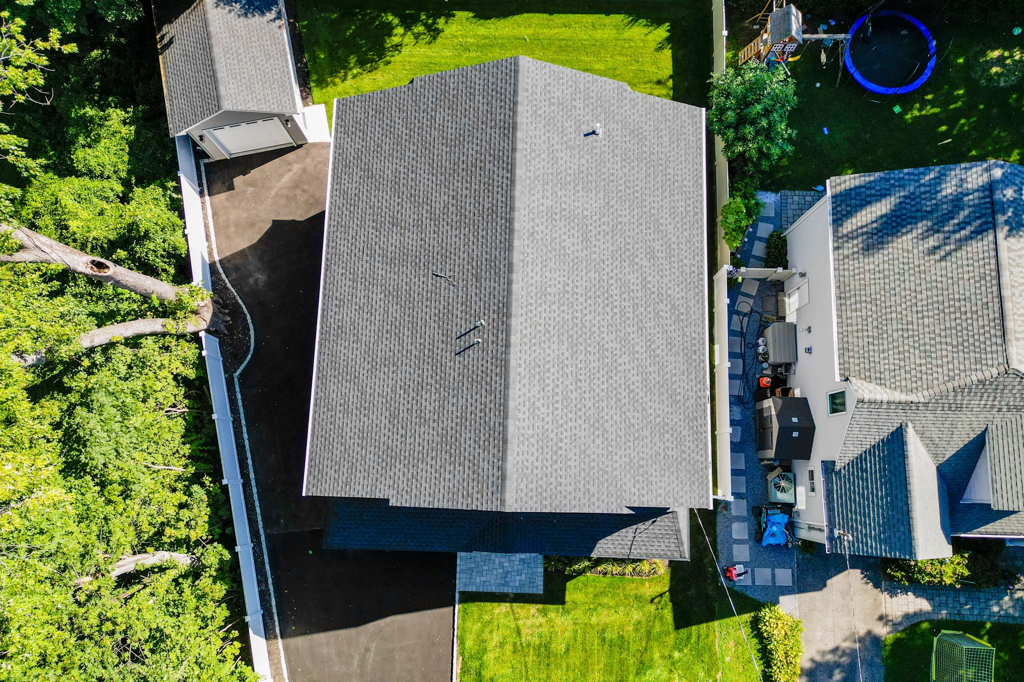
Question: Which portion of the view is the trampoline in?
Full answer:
Look in the top right portion of the view to spot the trampoline.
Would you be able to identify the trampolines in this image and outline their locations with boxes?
[841,0,952,102]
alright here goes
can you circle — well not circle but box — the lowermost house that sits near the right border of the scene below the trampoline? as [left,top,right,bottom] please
[779,162,1024,559]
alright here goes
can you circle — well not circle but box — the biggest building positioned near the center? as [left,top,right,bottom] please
[293,54,716,516]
